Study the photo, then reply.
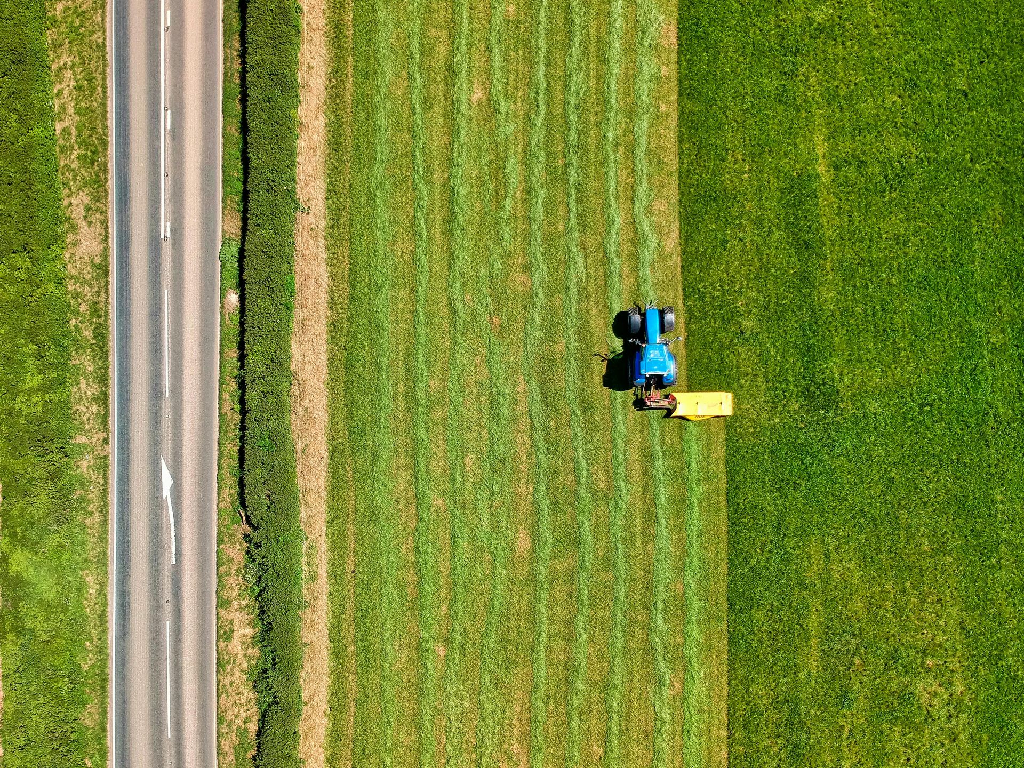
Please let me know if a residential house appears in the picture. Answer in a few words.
No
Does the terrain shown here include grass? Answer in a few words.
Yes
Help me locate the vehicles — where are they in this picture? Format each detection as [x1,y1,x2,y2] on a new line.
[625,298,682,393]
